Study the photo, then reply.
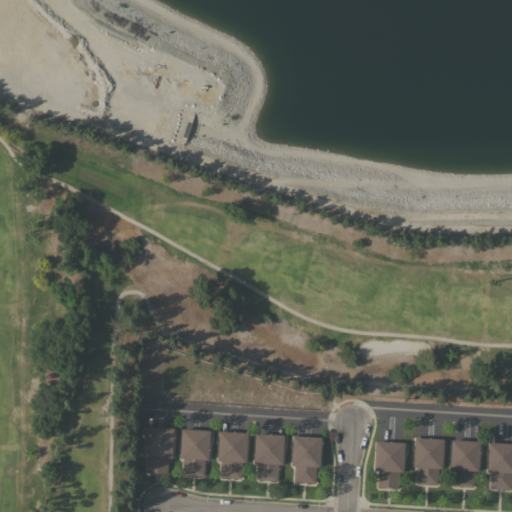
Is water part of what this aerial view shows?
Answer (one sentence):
Yes, there is water in the image.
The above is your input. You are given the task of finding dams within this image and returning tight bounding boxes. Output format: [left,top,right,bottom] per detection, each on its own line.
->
[92,0,512,217]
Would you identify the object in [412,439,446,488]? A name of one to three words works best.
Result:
house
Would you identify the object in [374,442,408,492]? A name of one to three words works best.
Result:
house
